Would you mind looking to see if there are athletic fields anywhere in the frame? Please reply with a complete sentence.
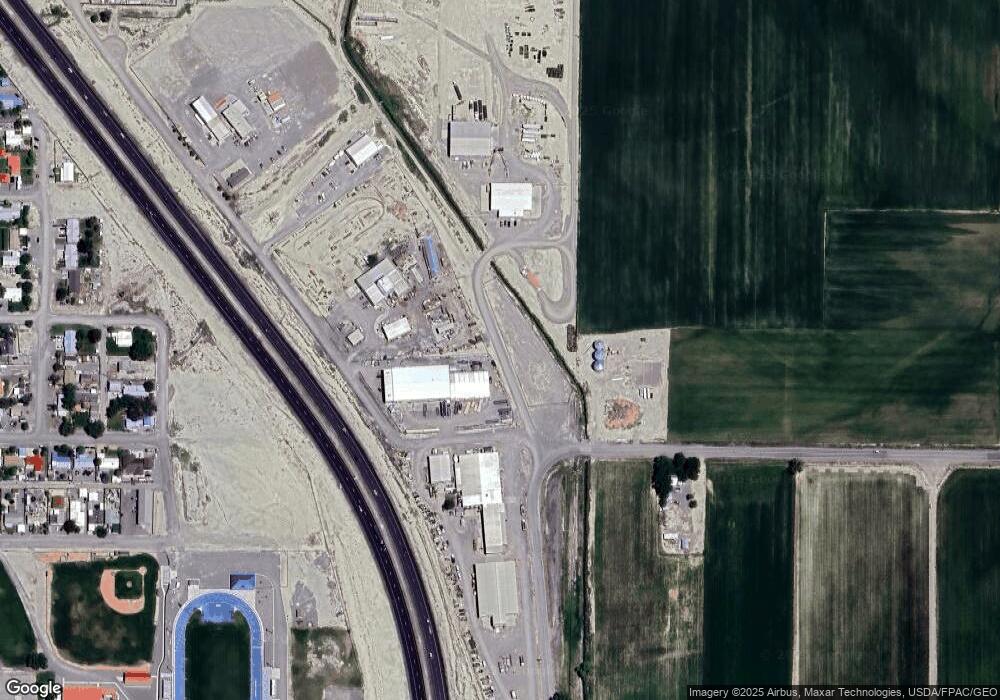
Yes, an athletic field is visible in the scene.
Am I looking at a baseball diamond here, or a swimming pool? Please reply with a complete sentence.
This aerial view contains a baseball diamond.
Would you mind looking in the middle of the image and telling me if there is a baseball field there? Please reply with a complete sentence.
No, no baseball field appears in the middle of the image.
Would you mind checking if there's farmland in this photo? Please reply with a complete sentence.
Yes, farmland shows up in the scene.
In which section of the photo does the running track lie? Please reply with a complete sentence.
The running track is in the bottom left part of the image.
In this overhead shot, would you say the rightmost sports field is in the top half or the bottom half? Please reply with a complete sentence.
It is in the bottom half that the rightmost sports field appears.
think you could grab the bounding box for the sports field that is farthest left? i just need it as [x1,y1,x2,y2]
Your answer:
[0,559,34,666]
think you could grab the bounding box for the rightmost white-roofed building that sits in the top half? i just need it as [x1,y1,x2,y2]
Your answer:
[491,183,532,217]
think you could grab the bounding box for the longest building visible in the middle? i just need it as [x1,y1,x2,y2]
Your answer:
[384,365,489,402]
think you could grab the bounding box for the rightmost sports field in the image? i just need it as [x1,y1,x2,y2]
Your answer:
[186,607,250,700]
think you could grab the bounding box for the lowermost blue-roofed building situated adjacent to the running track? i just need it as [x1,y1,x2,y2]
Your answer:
[231,575,255,590]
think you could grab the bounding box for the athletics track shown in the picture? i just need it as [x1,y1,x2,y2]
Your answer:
[172,590,265,700]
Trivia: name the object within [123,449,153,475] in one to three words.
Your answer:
house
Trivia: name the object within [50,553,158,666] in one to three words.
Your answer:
baseball field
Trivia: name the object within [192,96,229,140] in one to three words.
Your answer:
shed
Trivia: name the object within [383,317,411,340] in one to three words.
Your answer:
building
